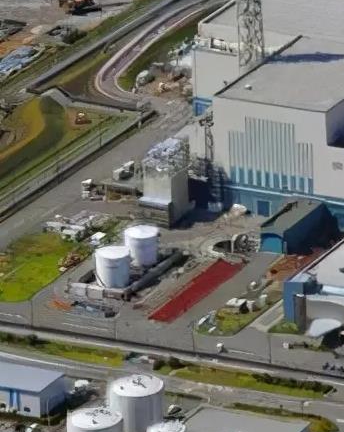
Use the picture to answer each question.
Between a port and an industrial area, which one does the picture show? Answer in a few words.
industrial area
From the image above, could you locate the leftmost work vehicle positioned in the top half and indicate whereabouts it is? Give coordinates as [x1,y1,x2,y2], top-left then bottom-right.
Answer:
[68,106,87,122]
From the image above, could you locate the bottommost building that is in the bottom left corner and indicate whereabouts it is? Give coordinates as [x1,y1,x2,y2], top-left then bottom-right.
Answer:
[0,360,69,417]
